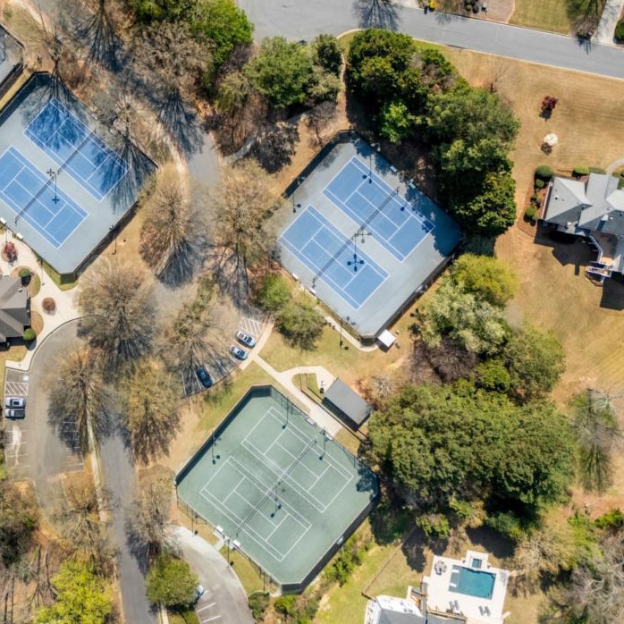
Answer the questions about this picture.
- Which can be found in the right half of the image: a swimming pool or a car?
swimming pool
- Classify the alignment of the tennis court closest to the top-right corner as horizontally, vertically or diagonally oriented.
diagonally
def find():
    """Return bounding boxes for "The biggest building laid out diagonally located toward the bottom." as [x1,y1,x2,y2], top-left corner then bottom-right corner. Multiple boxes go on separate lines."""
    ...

[324,376,372,424]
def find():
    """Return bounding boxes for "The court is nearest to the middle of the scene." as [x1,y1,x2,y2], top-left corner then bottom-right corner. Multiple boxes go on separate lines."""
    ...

[277,203,389,310]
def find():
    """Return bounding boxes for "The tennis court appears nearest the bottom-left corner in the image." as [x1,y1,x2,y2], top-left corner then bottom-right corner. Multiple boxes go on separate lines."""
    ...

[199,455,312,561]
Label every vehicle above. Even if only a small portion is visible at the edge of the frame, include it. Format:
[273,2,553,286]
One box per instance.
[4,397,25,408]
[229,344,249,361]
[197,366,213,388]
[3,408,26,420]
[236,330,258,348]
